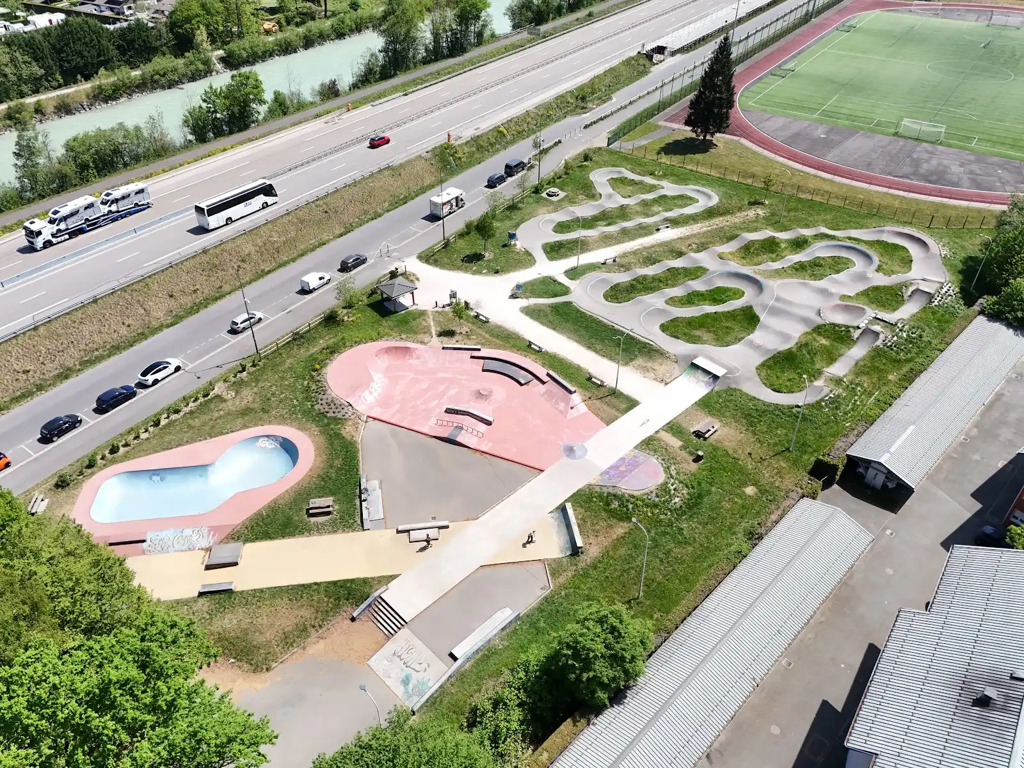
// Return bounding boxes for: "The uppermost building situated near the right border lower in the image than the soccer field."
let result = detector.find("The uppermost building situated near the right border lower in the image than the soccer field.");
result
[843,307,1024,505]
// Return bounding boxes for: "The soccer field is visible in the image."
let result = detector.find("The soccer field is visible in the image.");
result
[738,10,1024,159]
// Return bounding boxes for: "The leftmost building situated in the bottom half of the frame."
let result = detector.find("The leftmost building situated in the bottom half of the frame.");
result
[544,498,872,768]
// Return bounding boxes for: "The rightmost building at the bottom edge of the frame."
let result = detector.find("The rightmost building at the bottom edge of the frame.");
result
[827,542,1024,768]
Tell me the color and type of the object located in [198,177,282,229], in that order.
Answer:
white bus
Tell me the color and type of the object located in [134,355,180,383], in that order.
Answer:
white car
